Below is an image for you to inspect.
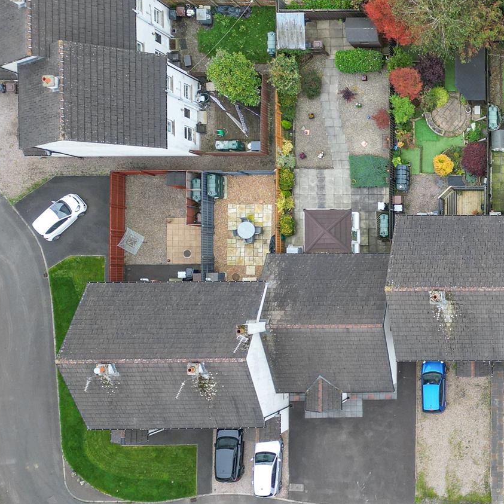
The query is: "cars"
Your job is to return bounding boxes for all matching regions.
[419,363,447,413]
[252,441,286,497]
[30,194,94,242]
[212,431,246,484]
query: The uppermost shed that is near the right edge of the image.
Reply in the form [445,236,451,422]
[455,46,488,106]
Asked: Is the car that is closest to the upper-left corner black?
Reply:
No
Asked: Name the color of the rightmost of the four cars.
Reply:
blue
